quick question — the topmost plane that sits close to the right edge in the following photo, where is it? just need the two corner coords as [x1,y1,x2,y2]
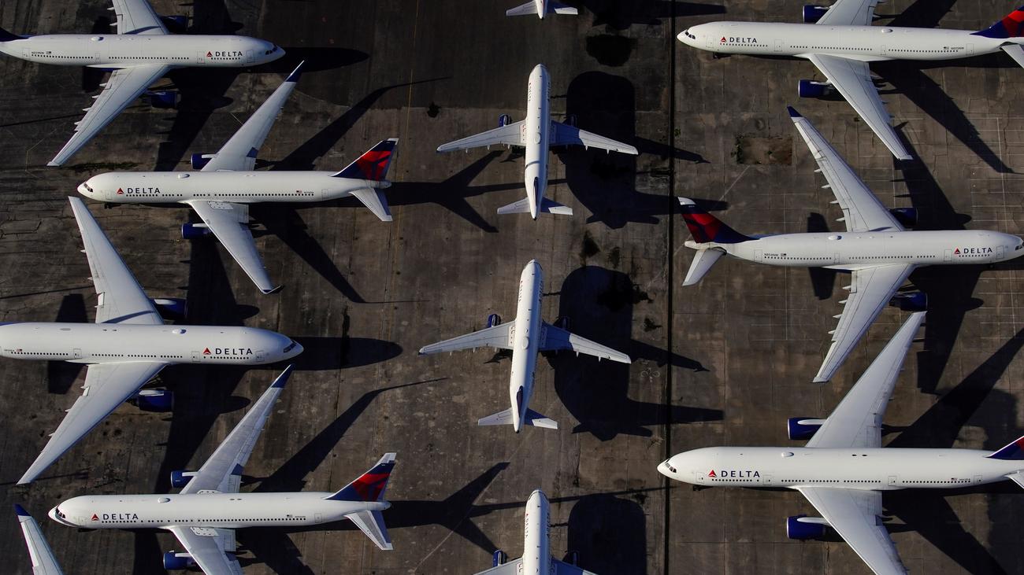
[677,0,1024,158]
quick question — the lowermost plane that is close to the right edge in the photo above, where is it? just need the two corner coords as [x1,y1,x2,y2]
[657,312,1024,575]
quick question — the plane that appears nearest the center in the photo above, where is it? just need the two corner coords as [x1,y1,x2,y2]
[420,261,630,433]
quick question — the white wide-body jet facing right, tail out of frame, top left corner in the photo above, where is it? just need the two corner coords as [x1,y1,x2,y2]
[0,0,285,165]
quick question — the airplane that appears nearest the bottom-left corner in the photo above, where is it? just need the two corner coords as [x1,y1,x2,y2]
[13,504,66,575]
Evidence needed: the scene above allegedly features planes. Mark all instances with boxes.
[49,366,395,575]
[470,490,607,575]
[677,0,1024,158]
[437,65,636,219]
[78,63,397,295]
[13,504,66,575]
[420,261,630,433]
[0,0,285,165]
[657,312,1024,575]
[507,0,577,18]
[678,103,1024,381]
[0,195,303,487]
